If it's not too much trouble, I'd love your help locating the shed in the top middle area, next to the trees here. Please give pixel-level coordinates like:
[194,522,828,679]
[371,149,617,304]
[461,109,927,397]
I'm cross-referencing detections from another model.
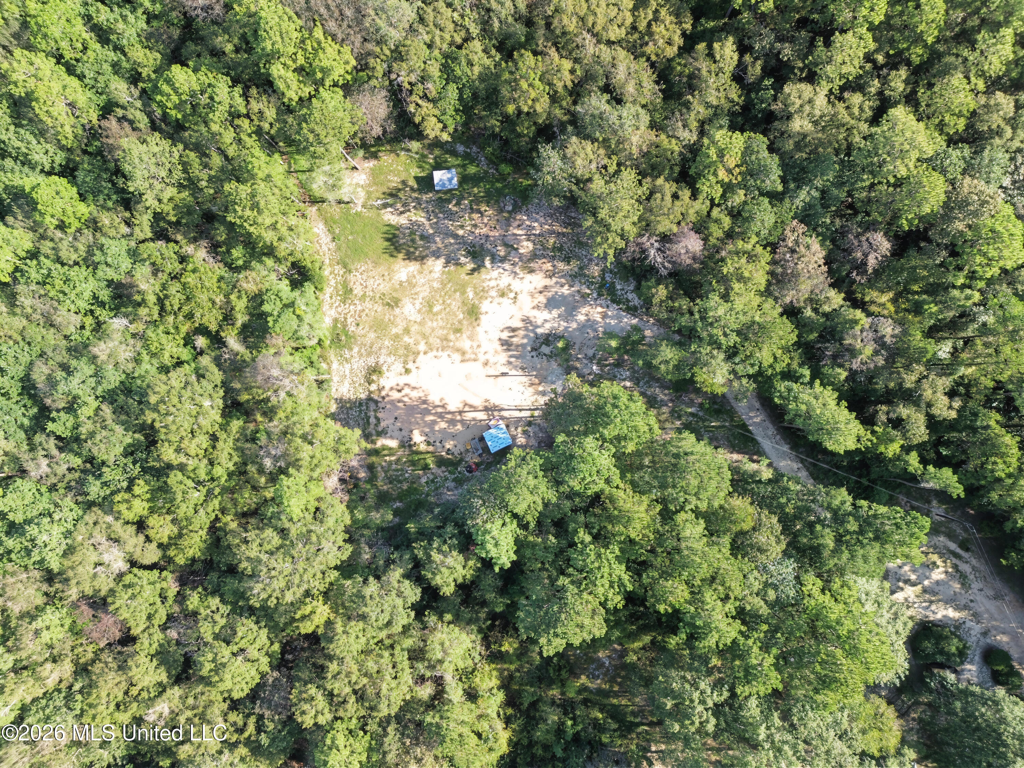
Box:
[434,169,458,193]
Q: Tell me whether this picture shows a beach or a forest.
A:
forest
